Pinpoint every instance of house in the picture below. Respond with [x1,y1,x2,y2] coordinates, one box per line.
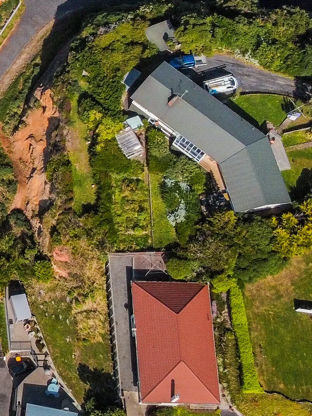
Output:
[19,403,78,416]
[130,61,293,212]
[125,282,220,405]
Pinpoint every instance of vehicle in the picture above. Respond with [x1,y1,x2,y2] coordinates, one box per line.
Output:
[167,54,208,70]
[200,74,237,94]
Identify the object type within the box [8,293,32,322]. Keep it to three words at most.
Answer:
building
